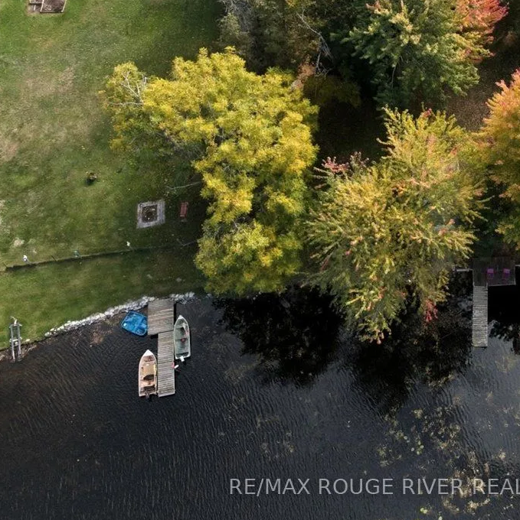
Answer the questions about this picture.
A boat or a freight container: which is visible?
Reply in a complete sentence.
Looking from above, you can make out a boat.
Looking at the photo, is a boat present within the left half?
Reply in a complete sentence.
Yes, looking within the left half, one can make out a boat.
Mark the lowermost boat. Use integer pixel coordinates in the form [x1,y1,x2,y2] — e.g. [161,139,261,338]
[137,349,158,403]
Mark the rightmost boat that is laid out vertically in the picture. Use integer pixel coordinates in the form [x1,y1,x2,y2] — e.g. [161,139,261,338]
[175,313,191,367]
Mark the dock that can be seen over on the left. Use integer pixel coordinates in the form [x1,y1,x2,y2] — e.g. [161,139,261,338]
[147,298,178,398]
